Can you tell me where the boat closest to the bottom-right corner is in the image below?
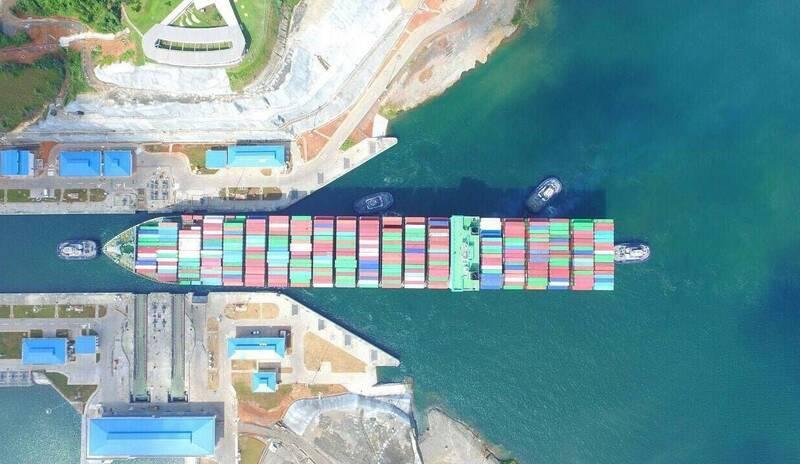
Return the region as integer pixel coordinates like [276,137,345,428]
[614,243,651,262]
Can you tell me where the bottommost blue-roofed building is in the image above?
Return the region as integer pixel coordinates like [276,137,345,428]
[88,414,219,457]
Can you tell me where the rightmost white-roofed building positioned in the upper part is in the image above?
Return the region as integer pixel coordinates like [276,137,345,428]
[141,0,248,71]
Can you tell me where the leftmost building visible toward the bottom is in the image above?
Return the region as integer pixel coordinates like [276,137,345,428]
[22,338,70,365]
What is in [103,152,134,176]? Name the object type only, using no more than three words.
building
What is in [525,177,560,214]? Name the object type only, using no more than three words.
boat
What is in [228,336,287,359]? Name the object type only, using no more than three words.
building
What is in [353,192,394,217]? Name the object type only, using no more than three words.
boat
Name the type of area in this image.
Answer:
port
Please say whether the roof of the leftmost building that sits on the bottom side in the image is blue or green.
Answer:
blue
